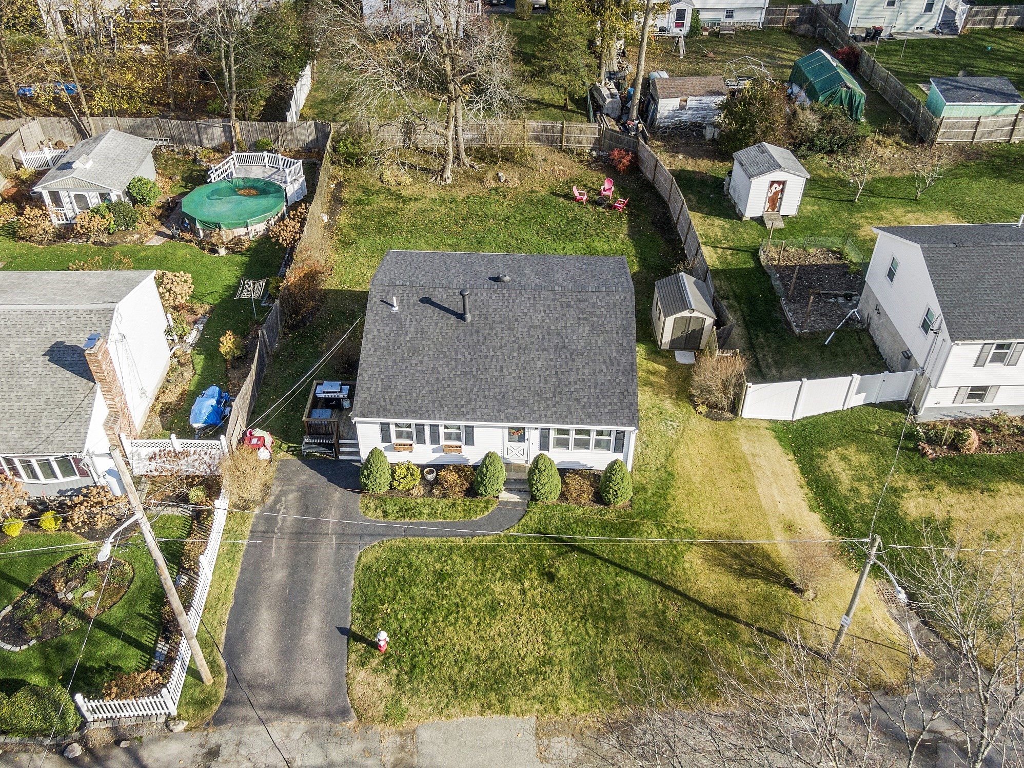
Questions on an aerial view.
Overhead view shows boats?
Yes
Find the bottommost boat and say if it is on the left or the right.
left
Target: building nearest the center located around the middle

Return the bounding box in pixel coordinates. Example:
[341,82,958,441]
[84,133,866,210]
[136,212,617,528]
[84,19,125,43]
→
[348,250,642,475]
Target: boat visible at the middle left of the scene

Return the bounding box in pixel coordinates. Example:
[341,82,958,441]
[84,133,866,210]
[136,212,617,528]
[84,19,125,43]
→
[188,377,232,424]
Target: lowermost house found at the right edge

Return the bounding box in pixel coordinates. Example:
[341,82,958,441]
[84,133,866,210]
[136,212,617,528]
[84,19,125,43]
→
[858,218,1024,425]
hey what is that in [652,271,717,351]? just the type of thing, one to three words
shed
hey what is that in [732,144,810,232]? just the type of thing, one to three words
shed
